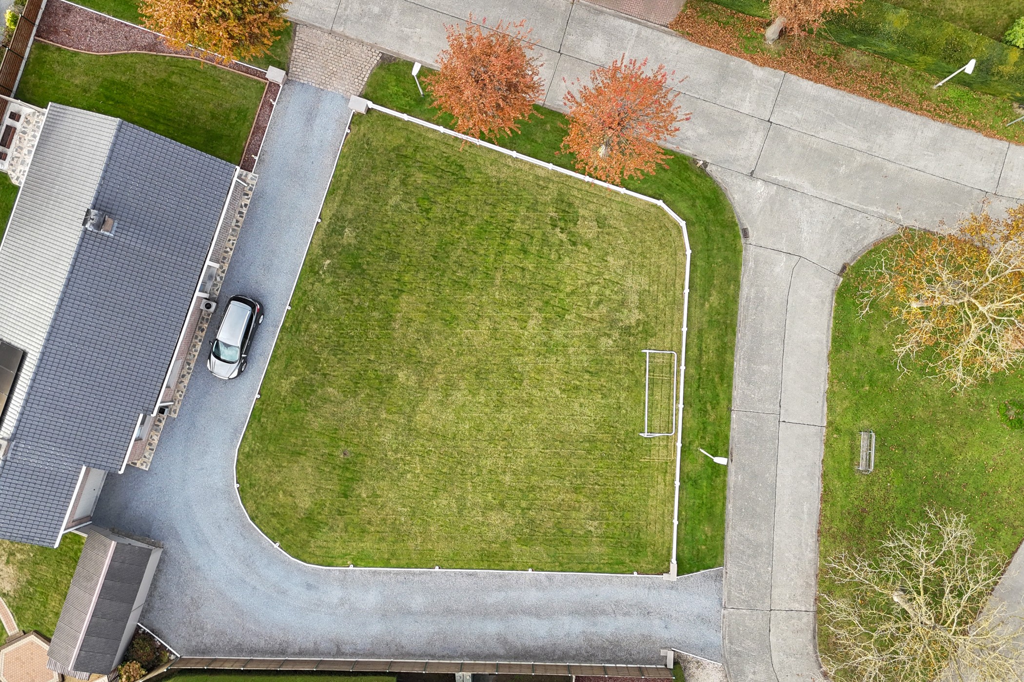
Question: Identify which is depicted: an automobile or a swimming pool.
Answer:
automobile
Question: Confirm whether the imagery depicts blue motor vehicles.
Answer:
No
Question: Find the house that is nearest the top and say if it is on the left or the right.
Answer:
left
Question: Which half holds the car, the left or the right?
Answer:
left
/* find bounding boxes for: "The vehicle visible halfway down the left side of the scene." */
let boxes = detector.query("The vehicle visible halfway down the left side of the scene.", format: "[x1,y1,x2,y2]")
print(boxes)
[205,293,264,382]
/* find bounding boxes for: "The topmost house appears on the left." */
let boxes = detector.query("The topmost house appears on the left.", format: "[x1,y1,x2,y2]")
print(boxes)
[0,101,246,551]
